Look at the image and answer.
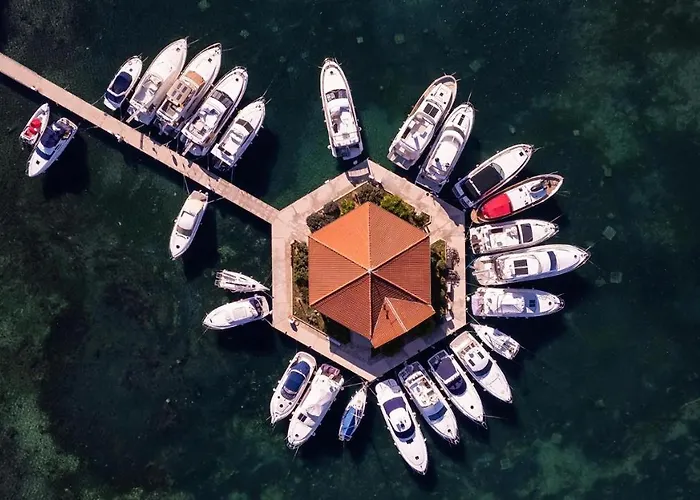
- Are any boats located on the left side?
Yes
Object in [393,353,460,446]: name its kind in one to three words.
boat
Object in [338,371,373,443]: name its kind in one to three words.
boat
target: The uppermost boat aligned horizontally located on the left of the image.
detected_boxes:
[216,272,275,297]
